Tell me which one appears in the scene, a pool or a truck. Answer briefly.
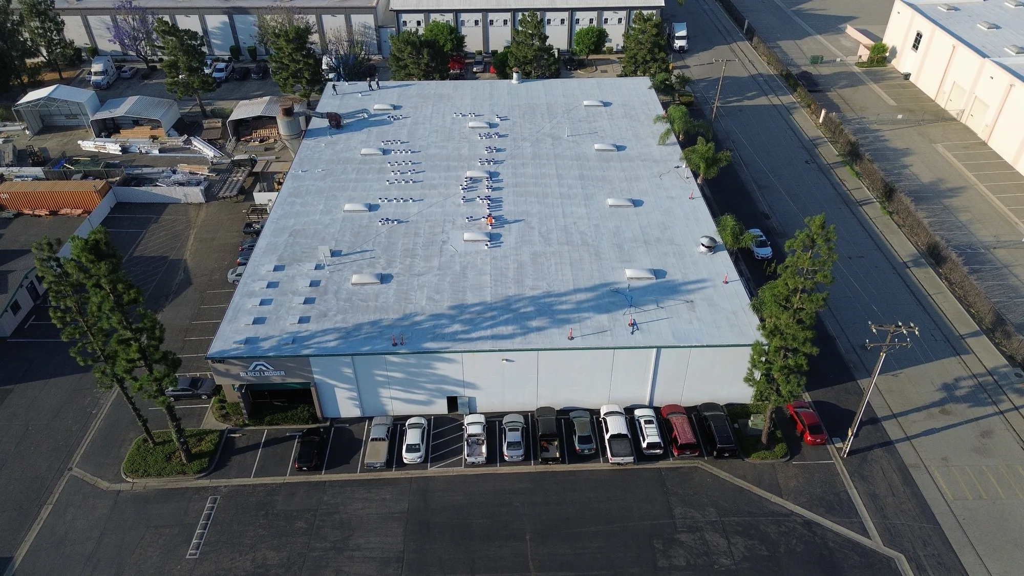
truck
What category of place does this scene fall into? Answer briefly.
industrial area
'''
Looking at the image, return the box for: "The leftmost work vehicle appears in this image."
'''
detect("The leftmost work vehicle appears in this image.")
[22,144,48,169]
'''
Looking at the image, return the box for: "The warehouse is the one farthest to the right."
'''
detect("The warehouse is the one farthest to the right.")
[884,0,1024,177]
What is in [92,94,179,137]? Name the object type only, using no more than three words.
shed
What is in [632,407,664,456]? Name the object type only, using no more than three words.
car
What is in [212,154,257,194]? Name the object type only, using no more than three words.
truck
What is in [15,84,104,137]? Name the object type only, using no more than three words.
shed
